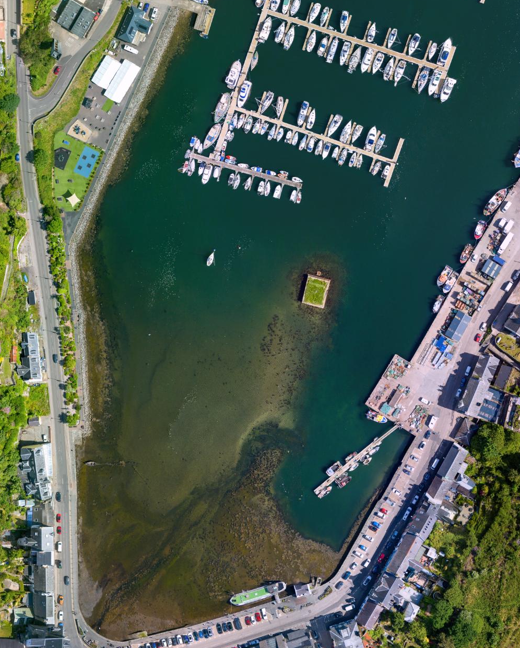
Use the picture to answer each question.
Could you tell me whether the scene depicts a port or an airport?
port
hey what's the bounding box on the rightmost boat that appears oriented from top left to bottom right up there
[365,409,386,424]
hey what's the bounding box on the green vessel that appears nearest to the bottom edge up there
[230,581,287,603]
